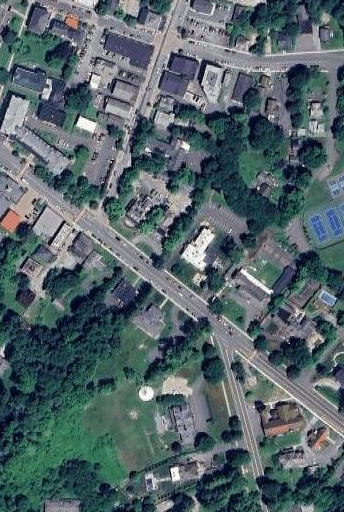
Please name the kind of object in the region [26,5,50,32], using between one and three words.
building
